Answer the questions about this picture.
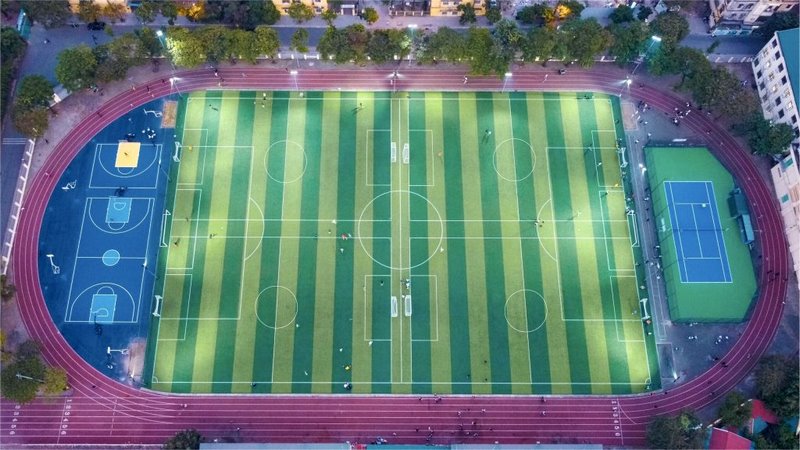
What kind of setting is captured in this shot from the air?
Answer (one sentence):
This looks like a sports ground.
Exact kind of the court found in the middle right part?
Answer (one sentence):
I'd identify the court found in the middle right part as a tennis court.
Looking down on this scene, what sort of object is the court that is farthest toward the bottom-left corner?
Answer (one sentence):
I'd say the court that is farthest toward the bottom-left corner is a basketball court.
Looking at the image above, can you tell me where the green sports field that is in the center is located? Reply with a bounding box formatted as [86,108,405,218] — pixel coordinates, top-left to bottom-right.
[138,90,664,395]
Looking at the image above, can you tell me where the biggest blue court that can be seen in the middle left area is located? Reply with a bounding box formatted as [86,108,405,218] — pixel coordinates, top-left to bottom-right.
[65,198,155,322]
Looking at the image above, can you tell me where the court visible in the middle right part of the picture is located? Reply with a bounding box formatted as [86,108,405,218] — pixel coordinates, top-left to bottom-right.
[644,147,757,322]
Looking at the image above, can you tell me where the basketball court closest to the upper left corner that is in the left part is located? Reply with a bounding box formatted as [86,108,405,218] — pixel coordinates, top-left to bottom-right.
[89,143,162,188]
